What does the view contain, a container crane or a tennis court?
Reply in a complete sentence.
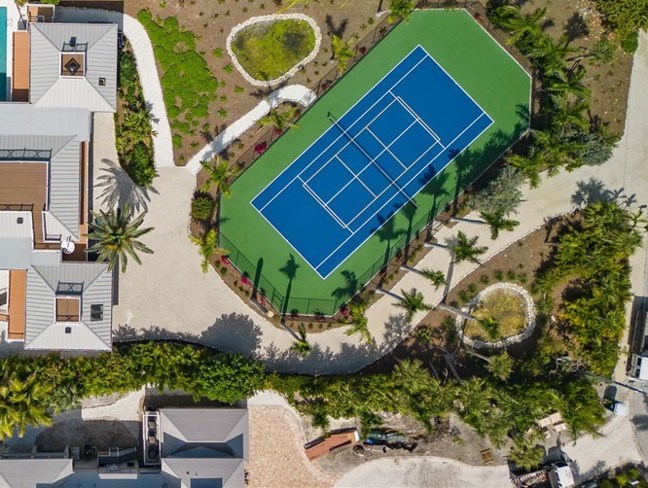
This aerial view contains a tennis court.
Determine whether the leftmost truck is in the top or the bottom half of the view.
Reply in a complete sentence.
The leftmost truck sits in the bottom half of the picture.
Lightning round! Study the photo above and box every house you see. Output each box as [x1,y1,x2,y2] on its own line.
[0,408,248,488]
[0,2,117,351]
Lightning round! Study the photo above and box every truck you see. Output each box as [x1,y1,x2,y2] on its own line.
[502,454,581,488]
[624,303,648,379]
